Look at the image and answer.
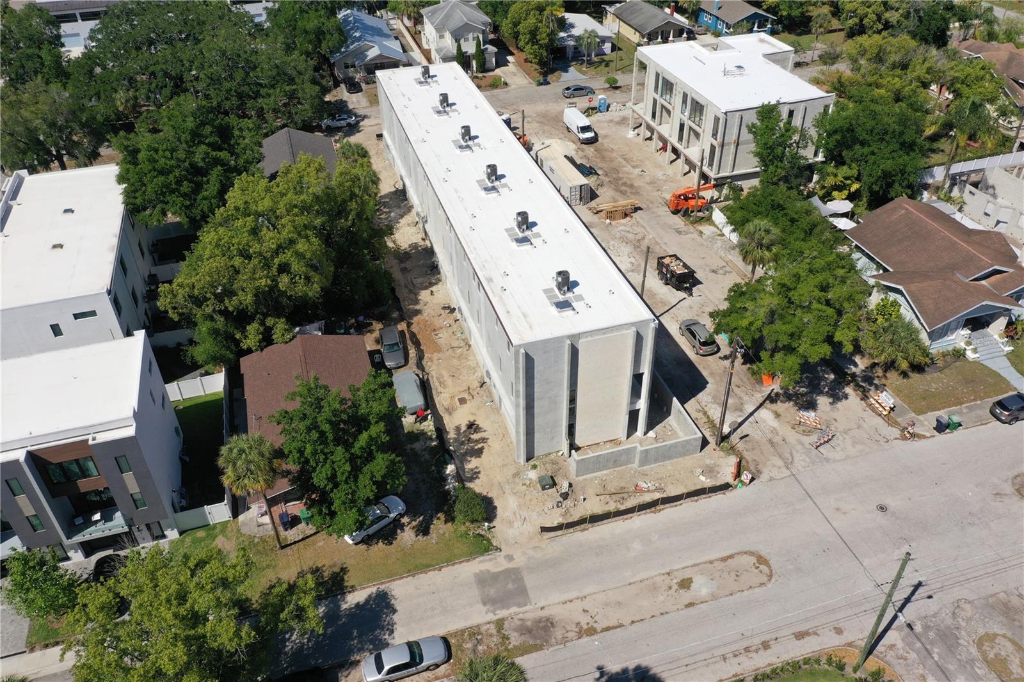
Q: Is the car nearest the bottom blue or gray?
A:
gray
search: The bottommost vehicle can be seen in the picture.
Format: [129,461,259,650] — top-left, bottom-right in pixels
[359,633,450,682]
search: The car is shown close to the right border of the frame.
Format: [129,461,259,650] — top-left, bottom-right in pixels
[991,388,1024,423]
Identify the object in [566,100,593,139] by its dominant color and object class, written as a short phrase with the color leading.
white vehicle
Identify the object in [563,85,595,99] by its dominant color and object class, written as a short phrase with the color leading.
gray car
